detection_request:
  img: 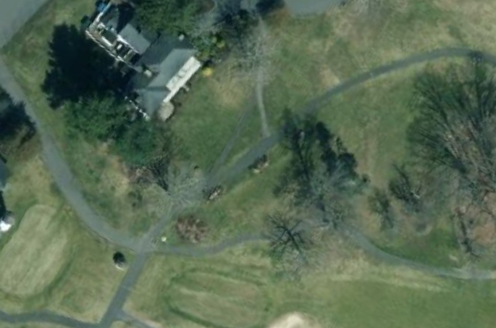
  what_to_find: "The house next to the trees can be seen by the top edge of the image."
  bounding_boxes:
[79,2,204,126]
